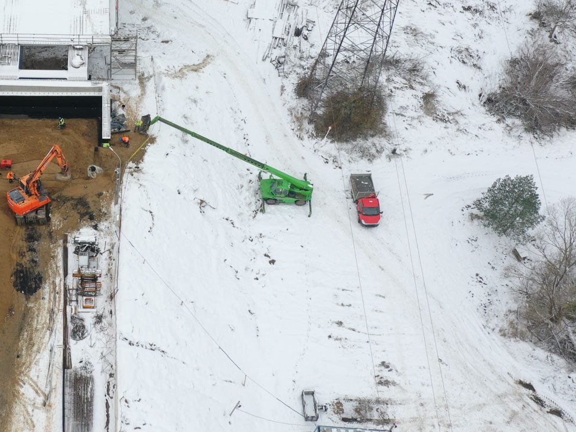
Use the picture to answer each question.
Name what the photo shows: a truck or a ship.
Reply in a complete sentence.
Visible in the photo is a truck.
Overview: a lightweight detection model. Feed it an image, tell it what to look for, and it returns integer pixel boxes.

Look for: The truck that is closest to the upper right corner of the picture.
[349,174,383,226]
